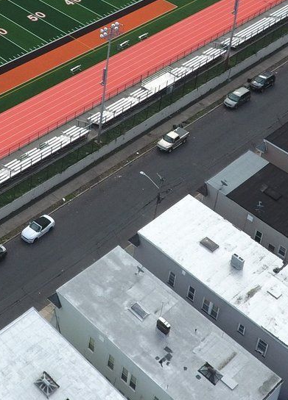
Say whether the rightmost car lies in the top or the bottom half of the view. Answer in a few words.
top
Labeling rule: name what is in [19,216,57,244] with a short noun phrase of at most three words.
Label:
car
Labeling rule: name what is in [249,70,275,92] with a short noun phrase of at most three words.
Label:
car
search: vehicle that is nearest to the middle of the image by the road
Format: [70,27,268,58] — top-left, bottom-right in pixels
[155,125,190,153]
